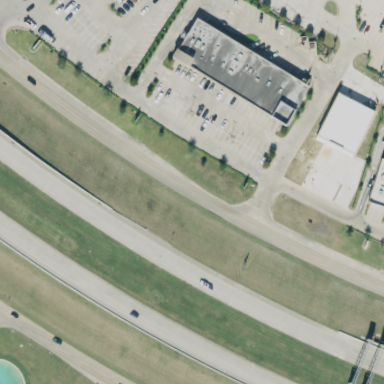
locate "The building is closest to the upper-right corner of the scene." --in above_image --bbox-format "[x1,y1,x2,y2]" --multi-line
[318,93,376,154]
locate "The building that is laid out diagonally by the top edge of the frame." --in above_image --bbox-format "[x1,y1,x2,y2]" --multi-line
[172,18,309,127]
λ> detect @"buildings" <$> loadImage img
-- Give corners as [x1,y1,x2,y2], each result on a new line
[369,156,384,206]
[172,18,309,127]
[318,93,376,154]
